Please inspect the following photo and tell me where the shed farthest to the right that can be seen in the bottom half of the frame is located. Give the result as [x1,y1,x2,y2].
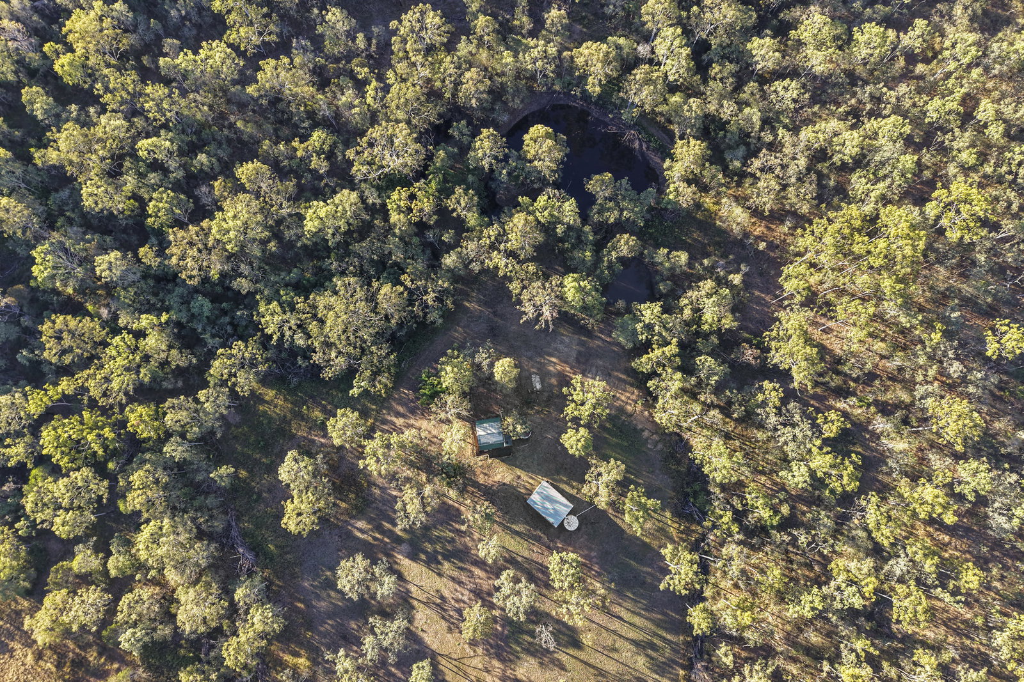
[526,481,574,528]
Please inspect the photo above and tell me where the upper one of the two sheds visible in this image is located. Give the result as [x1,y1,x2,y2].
[472,413,513,464]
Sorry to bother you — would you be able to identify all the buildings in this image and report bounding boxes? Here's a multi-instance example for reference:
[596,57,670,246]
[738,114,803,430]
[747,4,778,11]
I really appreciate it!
[472,413,513,464]
[526,481,574,528]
